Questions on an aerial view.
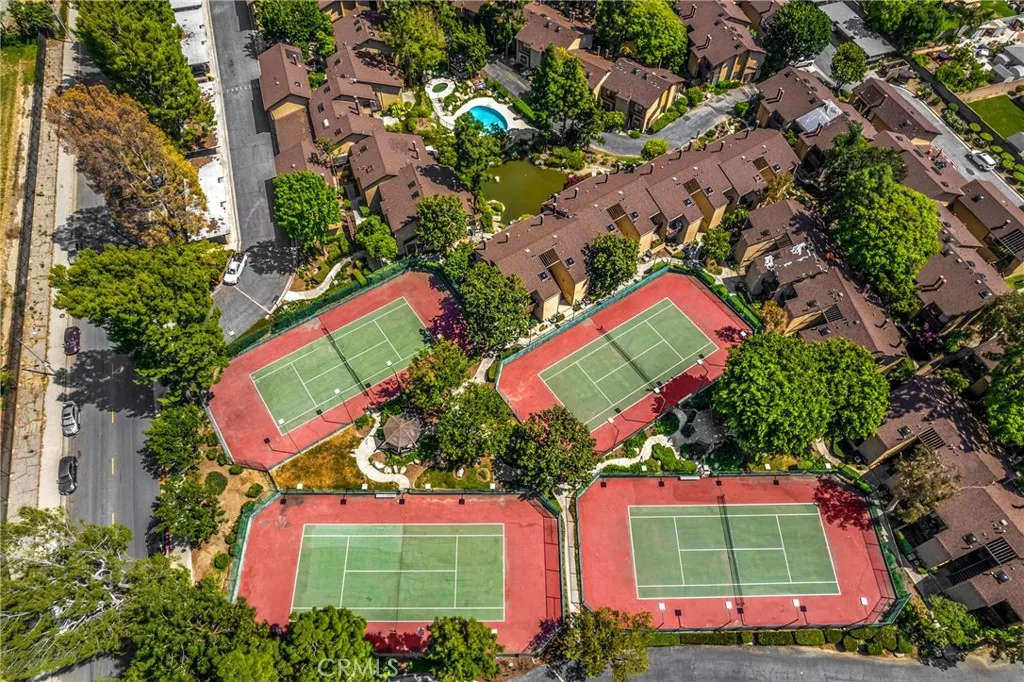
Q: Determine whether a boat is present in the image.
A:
No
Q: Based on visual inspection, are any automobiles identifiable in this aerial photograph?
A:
Yes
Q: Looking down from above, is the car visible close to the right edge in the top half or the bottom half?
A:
top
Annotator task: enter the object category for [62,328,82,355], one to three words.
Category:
car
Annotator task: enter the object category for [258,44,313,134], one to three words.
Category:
house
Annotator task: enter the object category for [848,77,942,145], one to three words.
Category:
house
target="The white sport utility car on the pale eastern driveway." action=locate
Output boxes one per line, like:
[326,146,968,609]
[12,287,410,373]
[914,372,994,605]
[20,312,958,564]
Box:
[970,149,1000,169]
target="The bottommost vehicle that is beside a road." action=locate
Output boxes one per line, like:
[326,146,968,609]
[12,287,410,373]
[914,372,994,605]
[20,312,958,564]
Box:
[56,456,79,495]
